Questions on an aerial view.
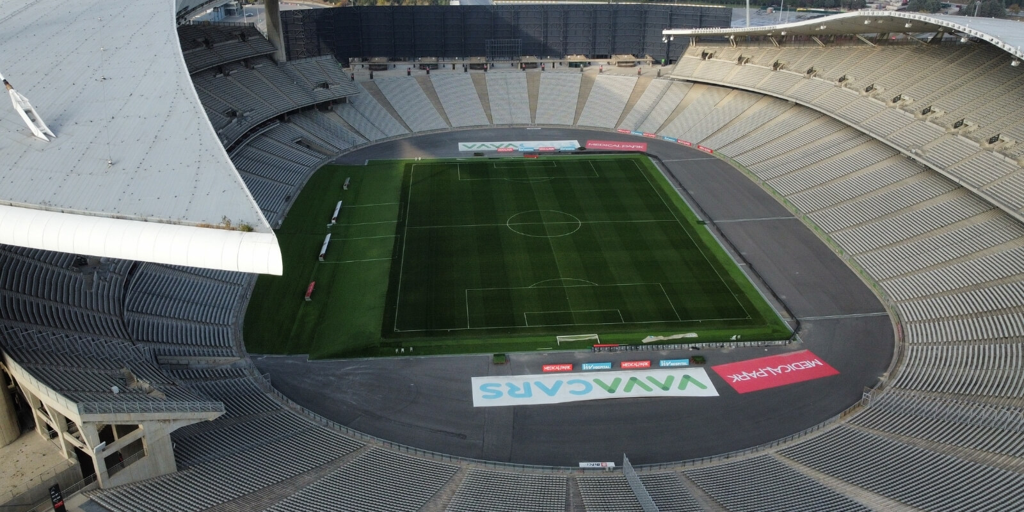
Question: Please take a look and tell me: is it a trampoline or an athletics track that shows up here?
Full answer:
The one in the frame is an athletics track.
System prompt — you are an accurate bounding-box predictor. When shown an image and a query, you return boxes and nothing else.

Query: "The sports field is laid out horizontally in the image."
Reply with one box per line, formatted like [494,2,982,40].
[381,157,770,339]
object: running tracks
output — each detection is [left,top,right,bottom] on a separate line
[239,127,899,470]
